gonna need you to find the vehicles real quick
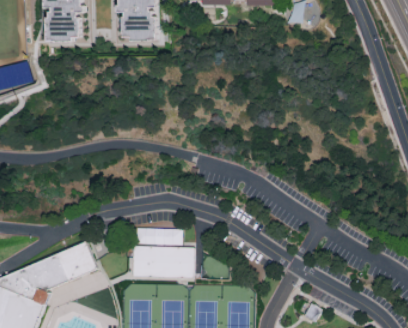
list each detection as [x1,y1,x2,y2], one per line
[254,252,264,264]
[244,248,253,258]
[240,211,249,222]
[252,222,259,230]
[230,204,240,217]
[235,208,245,220]
[257,224,264,232]
[244,214,254,226]
[238,240,244,250]
[250,250,258,261]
